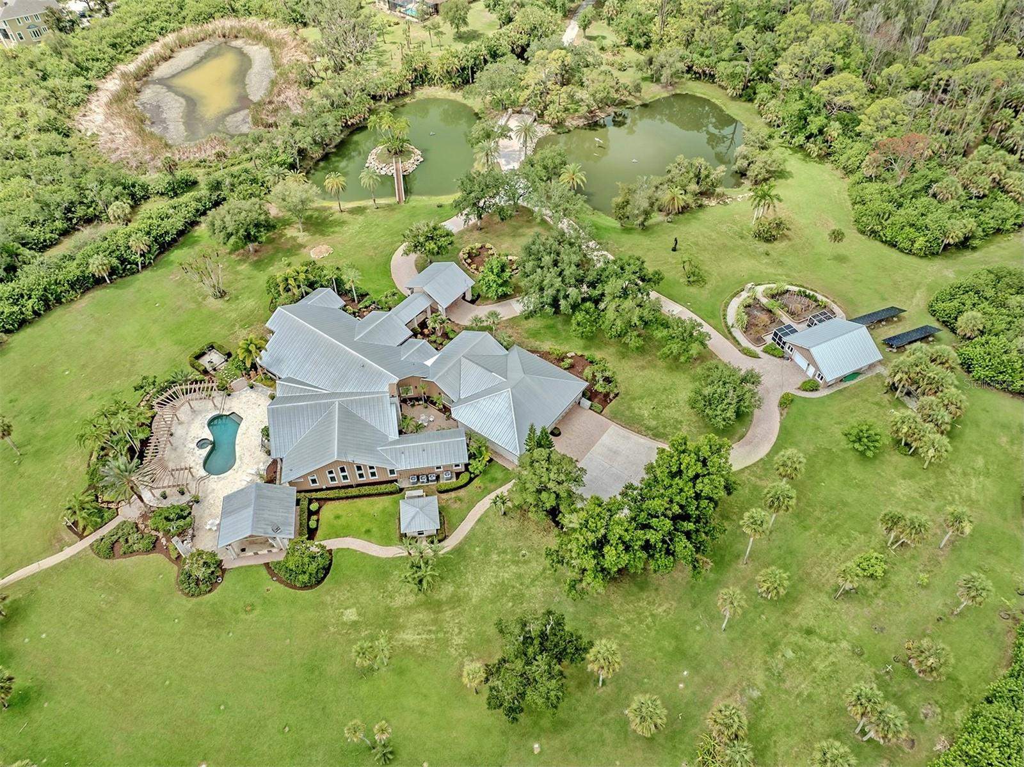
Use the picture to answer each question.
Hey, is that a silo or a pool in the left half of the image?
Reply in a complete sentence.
The feature located in the left half of the image is a pool.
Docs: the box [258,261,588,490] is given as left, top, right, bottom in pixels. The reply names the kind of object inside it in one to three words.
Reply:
house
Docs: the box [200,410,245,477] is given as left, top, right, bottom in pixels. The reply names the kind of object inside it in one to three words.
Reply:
swimming pool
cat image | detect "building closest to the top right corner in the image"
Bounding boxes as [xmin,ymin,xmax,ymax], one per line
[783,318,882,393]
